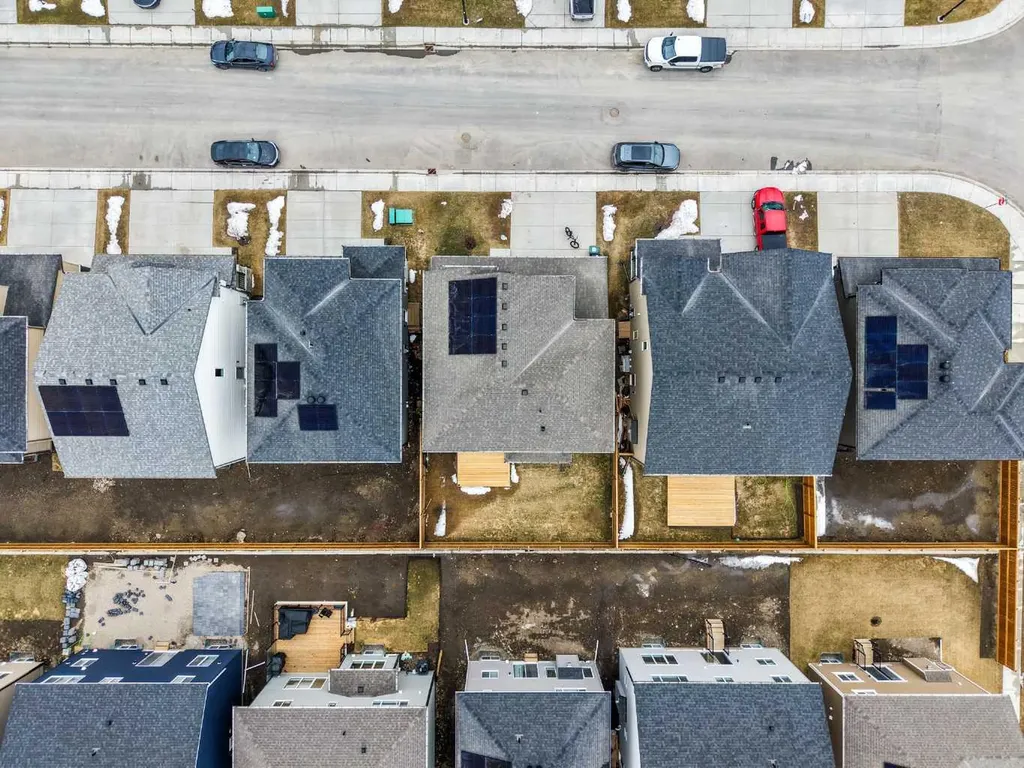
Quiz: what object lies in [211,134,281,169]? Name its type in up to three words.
car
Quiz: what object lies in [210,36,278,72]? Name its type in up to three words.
car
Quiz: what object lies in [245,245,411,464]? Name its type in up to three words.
house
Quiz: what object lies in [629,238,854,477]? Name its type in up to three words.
house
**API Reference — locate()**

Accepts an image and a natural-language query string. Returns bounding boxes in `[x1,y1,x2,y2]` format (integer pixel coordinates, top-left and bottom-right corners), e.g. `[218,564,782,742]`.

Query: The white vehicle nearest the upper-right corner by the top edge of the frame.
[642,32,741,73]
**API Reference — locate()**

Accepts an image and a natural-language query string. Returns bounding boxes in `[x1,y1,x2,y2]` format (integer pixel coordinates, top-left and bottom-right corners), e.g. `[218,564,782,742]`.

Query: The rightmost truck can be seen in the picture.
[752,185,791,250]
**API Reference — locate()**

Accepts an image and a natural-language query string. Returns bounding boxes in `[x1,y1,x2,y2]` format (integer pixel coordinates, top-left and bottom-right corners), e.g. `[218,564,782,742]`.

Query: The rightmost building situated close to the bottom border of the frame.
[808,653,1024,768]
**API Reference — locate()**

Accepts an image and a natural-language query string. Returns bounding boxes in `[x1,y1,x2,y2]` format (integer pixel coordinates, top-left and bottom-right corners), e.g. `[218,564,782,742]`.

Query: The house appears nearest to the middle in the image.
[422,255,616,467]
